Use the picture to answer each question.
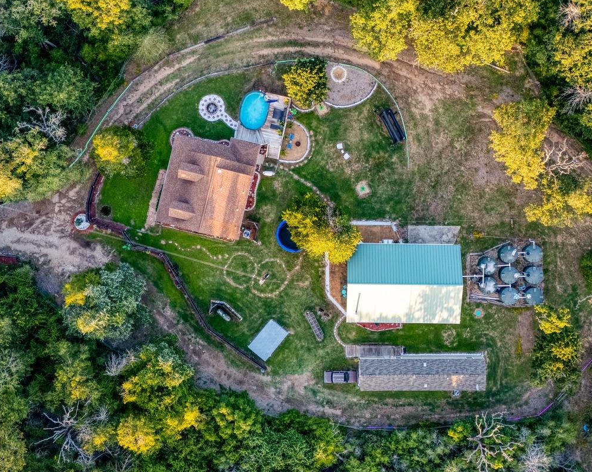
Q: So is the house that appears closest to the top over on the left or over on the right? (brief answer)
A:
left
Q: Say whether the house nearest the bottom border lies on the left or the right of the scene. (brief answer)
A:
right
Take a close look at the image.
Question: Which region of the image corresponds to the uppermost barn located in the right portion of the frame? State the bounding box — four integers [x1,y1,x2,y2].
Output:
[346,243,463,324]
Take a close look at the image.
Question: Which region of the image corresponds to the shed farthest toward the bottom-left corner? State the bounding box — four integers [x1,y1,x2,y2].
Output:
[249,318,289,360]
